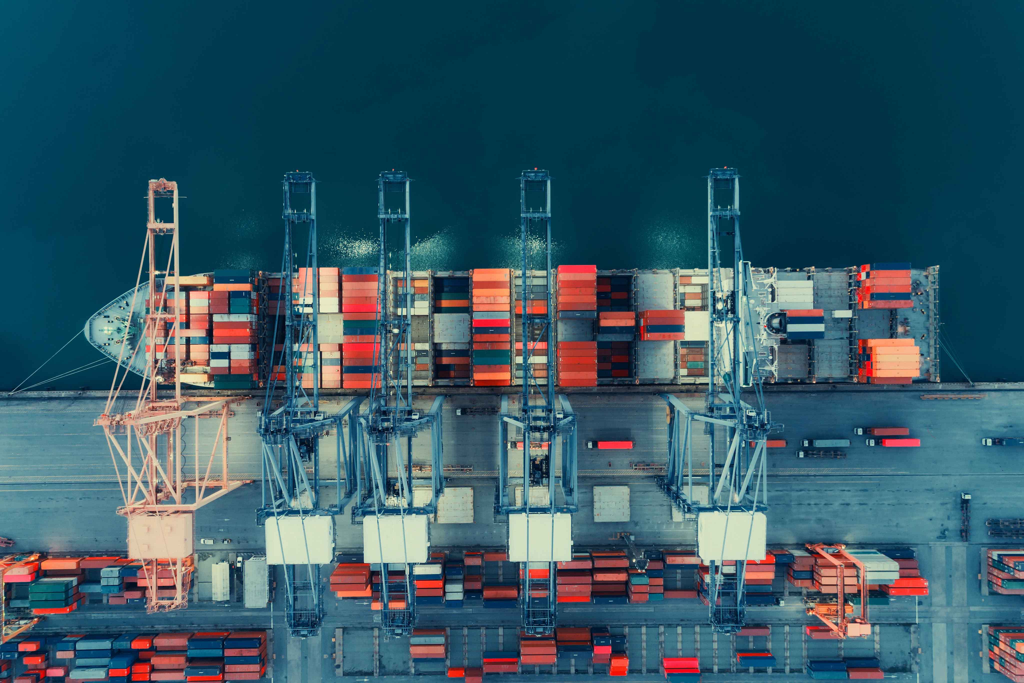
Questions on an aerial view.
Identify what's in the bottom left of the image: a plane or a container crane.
container crane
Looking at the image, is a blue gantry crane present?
Yes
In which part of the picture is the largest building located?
bottom left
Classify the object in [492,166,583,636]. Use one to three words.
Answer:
container crane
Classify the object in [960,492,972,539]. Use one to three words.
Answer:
vehicle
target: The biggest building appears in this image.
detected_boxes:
[244,554,279,608]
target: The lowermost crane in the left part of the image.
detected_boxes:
[0,551,48,643]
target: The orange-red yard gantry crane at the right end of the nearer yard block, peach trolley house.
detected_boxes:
[809,544,874,637]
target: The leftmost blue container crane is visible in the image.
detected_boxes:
[255,168,373,638]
